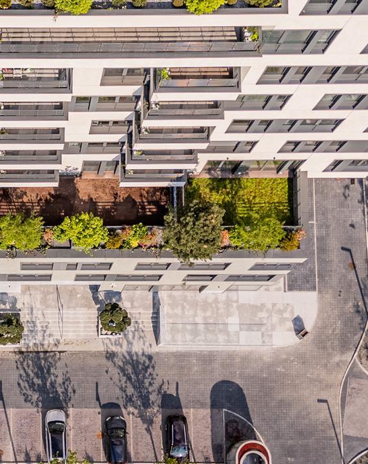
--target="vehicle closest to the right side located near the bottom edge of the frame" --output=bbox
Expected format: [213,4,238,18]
[164,414,190,464]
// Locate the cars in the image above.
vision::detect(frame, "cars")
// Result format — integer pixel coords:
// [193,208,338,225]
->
[104,416,128,464]
[164,414,190,464]
[43,411,68,463]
